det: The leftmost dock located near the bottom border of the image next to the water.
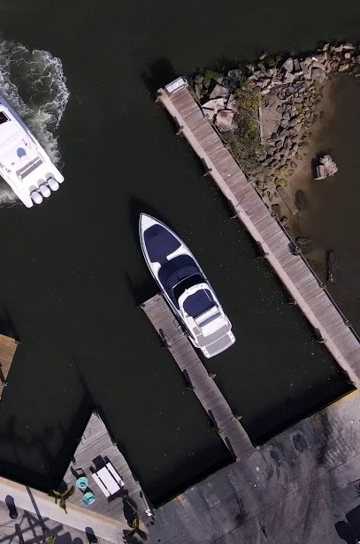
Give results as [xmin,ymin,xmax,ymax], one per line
[49,408,153,527]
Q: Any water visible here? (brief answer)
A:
Yes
